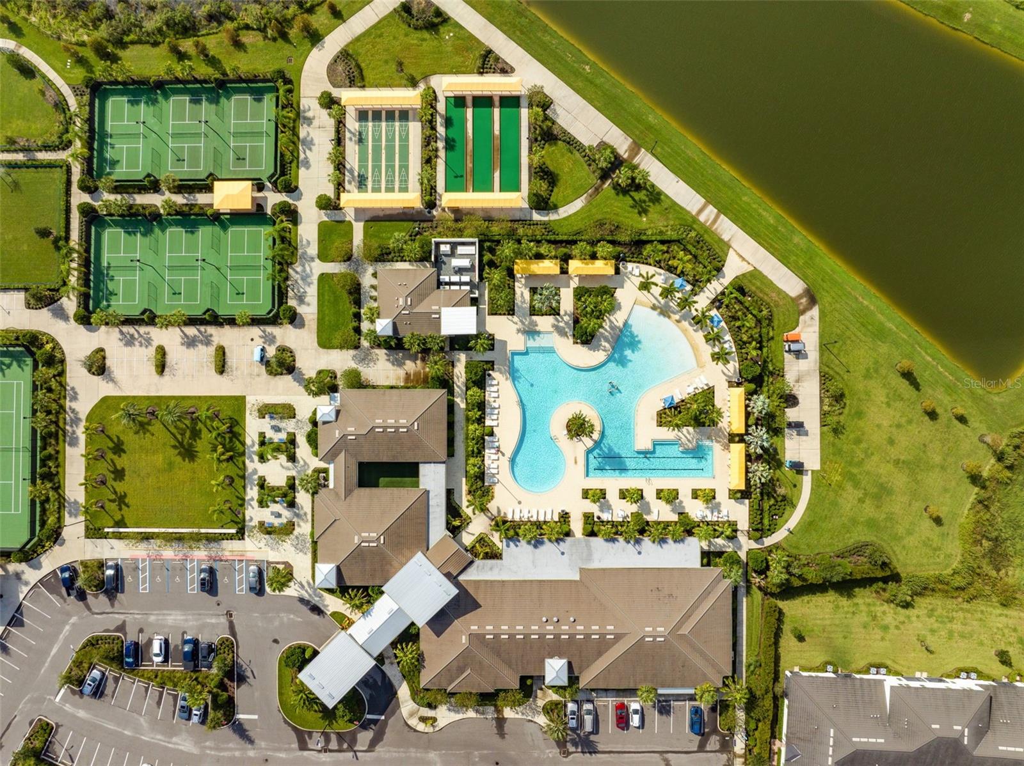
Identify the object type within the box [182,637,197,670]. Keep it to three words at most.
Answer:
vehicle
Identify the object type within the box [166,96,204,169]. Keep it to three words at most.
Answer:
sports court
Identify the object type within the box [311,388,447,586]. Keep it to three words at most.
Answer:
building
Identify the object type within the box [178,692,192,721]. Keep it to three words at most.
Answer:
car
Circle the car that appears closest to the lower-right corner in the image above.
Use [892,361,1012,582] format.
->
[690,706,703,734]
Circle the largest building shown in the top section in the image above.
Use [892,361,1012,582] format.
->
[377,268,471,335]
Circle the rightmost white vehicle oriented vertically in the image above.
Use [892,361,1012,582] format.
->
[630,700,642,728]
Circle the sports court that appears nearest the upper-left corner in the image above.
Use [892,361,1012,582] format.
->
[103,97,141,170]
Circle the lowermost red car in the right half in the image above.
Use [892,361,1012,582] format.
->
[615,701,628,730]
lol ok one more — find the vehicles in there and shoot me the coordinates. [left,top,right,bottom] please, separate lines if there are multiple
[247,565,260,592]
[200,637,214,671]
[178,692,192,721]
[191,698,207,727]
[783,334,802,341]
[59,564,78,593]
[105,562,120,590]
[785,461,803,469]
[615,701,628,730]
[254,347,264,361]
[786,421,804,428]
[182,637,197,670]
[152,635,166,663]
[582,701,595,731]
[784,344,803,351]
[123,639,138,668]
[198,564,212,592]
[567,701,579,729]
[690,706,703,734]
[630,700,642,728]
[84,667,103,696]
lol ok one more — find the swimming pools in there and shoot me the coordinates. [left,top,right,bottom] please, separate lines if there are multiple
[508,296,715,495]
